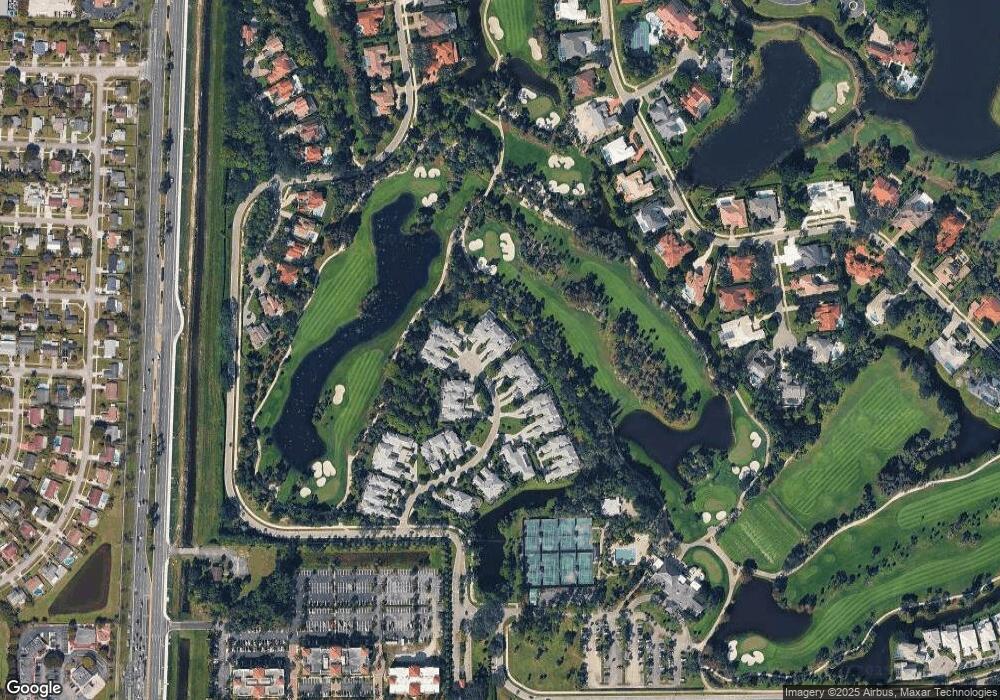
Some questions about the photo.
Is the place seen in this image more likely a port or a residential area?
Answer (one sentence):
This looks like a residential area.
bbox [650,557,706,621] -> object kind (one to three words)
building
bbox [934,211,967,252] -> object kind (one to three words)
house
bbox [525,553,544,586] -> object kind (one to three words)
tennis court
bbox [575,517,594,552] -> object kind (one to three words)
tennis court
